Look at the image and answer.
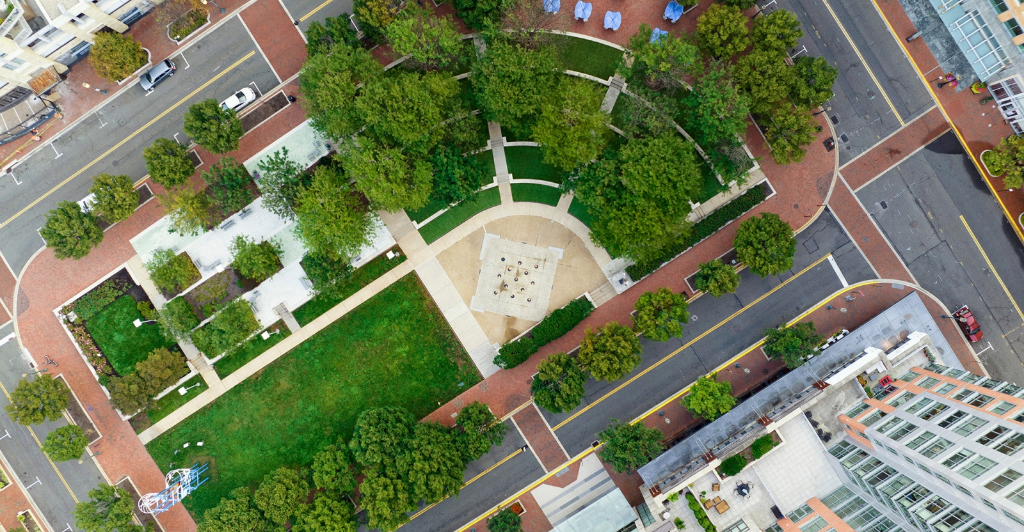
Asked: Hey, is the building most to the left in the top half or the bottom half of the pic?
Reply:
top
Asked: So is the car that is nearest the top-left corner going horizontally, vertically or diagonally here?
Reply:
diagonally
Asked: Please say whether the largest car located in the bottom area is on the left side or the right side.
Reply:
right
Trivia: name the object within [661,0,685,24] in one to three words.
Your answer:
umbrella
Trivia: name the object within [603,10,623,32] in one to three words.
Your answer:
umbrella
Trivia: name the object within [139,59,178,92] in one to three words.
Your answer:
car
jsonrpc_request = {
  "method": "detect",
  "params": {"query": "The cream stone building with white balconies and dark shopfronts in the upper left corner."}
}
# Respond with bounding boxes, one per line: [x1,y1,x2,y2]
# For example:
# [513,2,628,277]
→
[0,0,158,147]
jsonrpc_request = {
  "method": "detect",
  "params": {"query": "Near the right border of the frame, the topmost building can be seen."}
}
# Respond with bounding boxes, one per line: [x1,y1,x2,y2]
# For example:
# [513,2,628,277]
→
[929,0,1024,98]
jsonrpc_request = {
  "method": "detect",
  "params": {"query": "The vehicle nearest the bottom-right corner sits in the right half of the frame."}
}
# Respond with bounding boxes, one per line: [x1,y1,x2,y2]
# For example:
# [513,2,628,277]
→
[951,304,981,342]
